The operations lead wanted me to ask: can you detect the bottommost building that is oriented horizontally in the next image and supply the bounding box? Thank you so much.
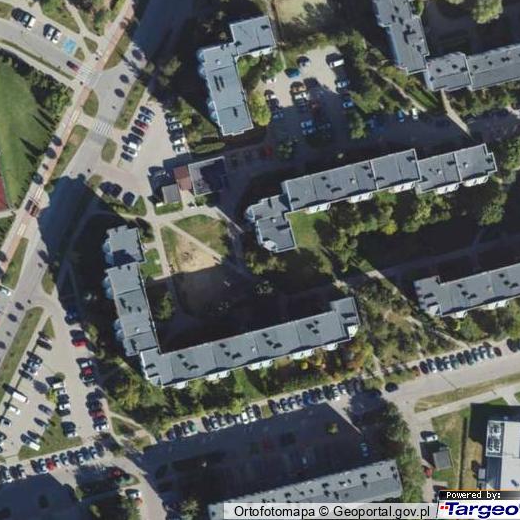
[207,460,403,520]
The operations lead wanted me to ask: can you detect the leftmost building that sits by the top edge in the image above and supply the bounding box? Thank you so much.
[199,17,276,139]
